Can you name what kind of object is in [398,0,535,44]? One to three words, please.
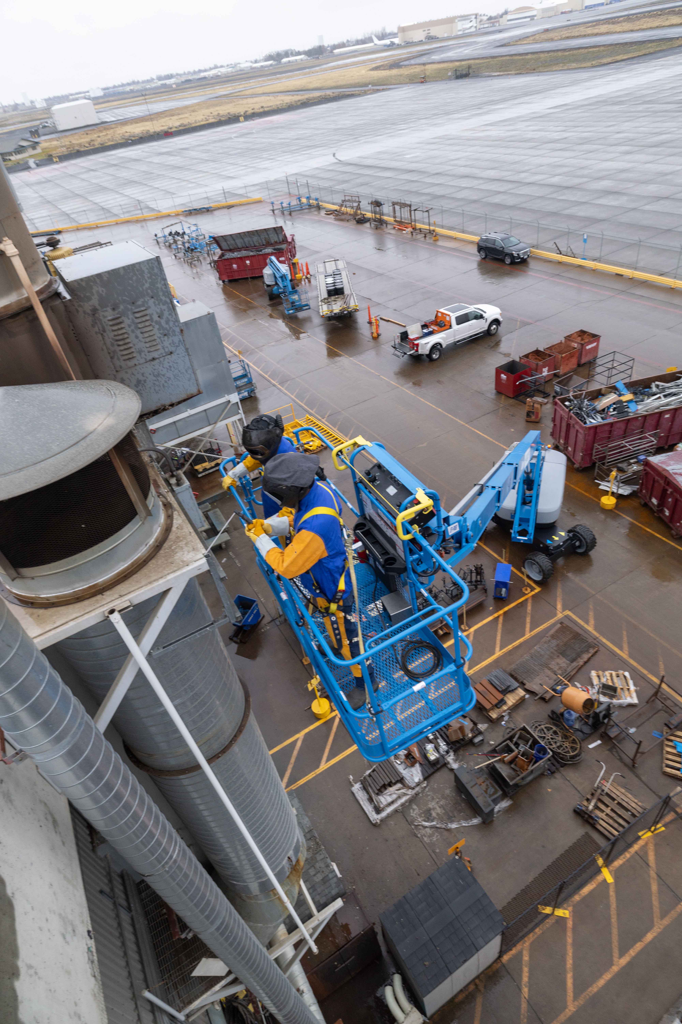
hangar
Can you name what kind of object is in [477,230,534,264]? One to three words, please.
car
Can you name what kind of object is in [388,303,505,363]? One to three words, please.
truck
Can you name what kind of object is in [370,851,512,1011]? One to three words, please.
shed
